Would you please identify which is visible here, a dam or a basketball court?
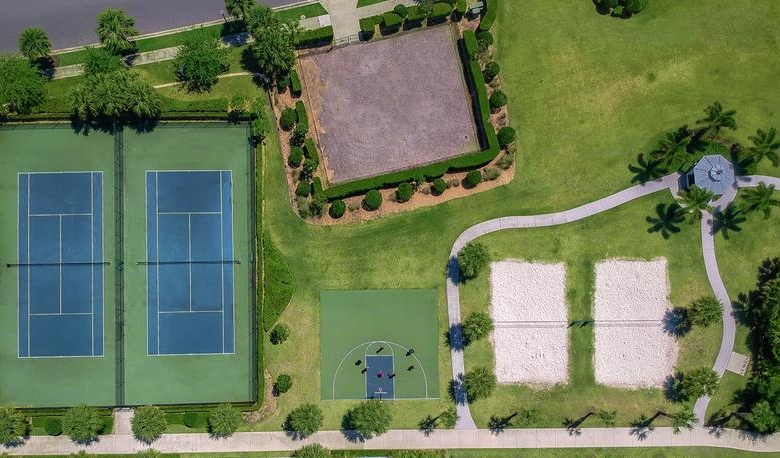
basketball court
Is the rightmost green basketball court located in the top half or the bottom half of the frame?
bottom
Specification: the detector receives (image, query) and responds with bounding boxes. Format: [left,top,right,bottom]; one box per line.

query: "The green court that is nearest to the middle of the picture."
[320,289,439,400]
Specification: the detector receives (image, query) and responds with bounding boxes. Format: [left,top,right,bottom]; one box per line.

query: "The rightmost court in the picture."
[592,257,676,389]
